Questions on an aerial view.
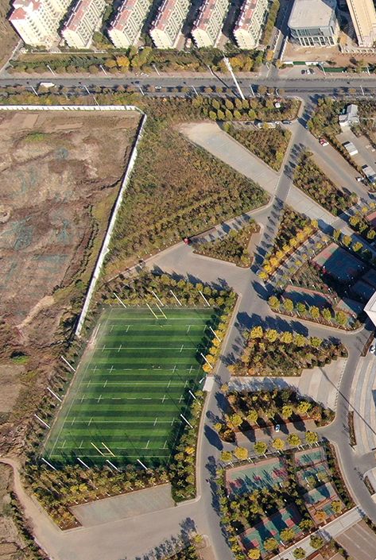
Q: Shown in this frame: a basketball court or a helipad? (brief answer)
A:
basketball court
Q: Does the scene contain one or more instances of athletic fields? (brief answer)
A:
Yes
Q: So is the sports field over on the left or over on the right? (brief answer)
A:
left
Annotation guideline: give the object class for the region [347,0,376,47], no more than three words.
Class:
building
